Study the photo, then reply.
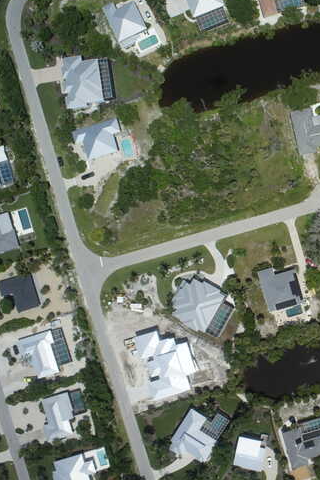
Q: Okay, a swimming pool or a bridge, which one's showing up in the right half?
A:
swimming pool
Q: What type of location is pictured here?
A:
residential area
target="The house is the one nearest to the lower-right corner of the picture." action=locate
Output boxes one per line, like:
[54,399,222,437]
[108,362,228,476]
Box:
[282,418,320,471]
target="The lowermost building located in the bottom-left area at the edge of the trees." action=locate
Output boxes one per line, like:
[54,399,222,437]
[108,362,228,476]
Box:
[54,451,100,480]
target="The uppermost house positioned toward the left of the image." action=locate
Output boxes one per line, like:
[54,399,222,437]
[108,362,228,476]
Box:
[103,1,148,50]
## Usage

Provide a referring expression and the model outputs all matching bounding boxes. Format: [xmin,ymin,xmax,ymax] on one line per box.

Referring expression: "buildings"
[0,146,17,186]
[173,279,236,336]
[103,1,148,50]
[170,407,231,462]
[43,388,88,442]
[282,418,320,471]
[54,451,100,480]
[234,432,266,471]
[0,212,36,253]
[0,274,43,312]
[290,108,320,156]
[19,326,75,378]
[62,56,118,108]
[136,328,200,401]
[258,268,303,311]
[72,118,122,159]
[188,0,229,33]
[259,0,303,18]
